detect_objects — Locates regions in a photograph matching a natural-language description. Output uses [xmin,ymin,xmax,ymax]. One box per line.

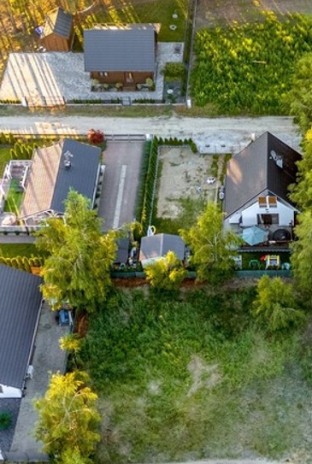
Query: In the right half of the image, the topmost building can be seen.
[227,130,302,228]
